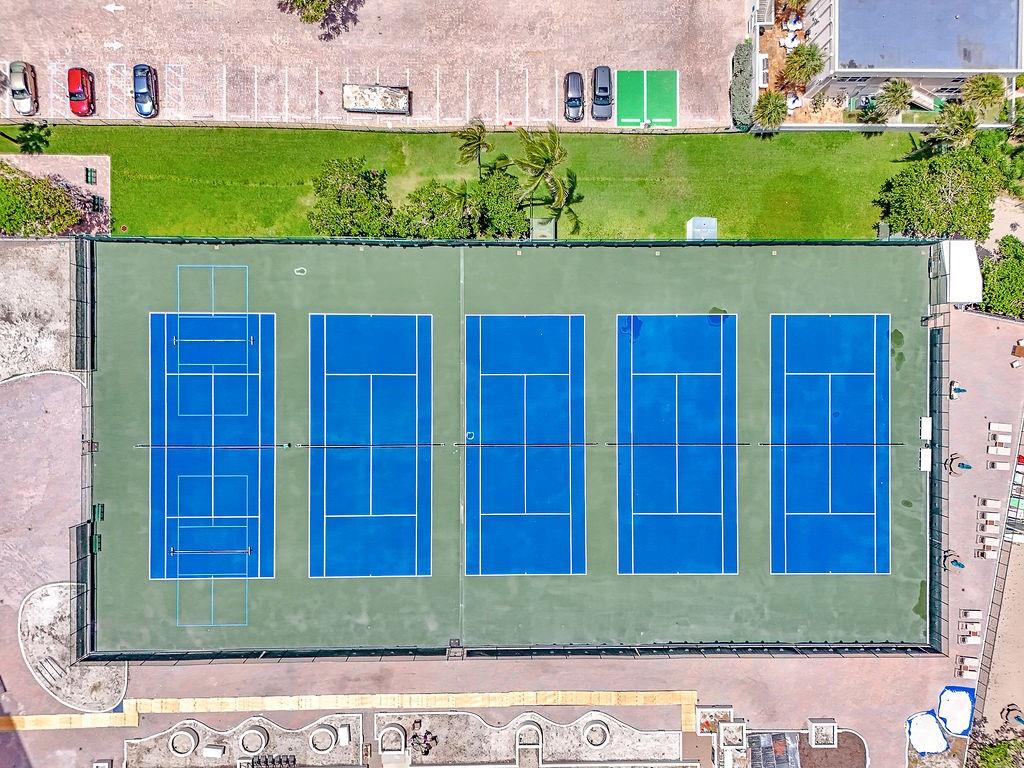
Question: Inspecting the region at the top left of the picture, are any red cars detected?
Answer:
Yes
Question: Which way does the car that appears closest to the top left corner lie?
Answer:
from top to bottom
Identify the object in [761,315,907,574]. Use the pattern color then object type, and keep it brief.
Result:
blue tennis court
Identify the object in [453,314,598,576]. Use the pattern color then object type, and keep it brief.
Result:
blue tennis court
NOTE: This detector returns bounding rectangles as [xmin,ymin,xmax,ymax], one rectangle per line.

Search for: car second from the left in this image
[66,65,95,116]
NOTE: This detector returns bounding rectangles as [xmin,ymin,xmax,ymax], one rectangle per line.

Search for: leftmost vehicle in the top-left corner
[7,59,37,115]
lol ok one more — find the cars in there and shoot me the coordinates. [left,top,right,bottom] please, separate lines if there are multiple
[66,65,95,116]
[131,63,159,117]
[591,65,615,121]
[7,59,37,115]
[563,70,586,123]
